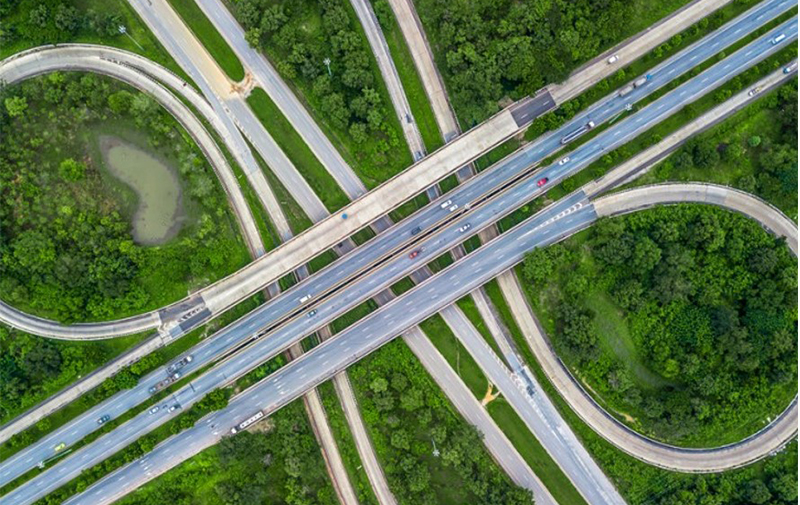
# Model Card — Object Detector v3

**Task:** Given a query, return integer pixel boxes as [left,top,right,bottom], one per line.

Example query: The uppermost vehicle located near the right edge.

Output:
[770,32,788,45]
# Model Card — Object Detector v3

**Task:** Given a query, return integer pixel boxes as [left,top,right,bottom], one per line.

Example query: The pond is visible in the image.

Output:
[108,145,178,243]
